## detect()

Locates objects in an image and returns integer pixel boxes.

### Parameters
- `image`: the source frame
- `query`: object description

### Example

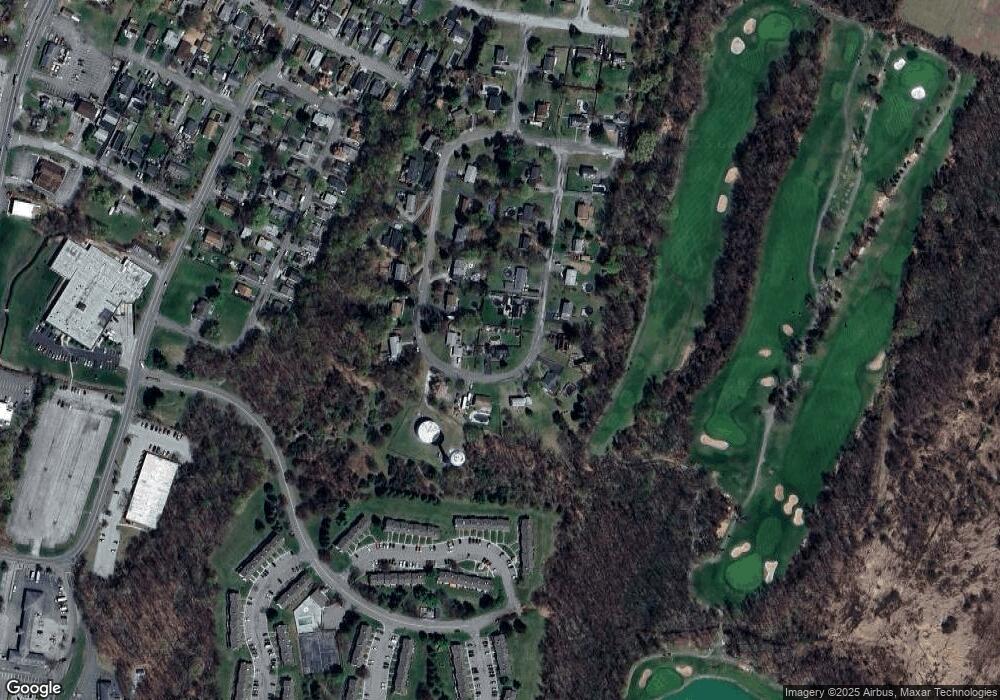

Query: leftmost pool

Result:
[294,597,322,633]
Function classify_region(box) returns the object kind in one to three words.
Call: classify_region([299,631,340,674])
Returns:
tennis court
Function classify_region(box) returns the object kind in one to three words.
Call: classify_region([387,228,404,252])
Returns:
house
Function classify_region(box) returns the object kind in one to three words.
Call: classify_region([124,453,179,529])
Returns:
building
